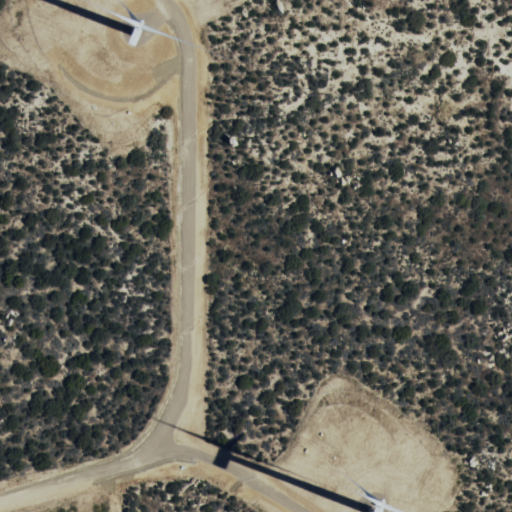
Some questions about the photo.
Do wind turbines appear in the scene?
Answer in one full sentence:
Yes, looking at the shot, I can spot a wind turbine.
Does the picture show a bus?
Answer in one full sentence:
No, there appears to be no bus in this shot.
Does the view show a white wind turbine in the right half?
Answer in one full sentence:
Yes, I can see a white wind turbine in the right half.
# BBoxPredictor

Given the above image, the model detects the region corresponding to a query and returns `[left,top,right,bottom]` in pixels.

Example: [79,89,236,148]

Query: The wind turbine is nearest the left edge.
[96,4,206,48]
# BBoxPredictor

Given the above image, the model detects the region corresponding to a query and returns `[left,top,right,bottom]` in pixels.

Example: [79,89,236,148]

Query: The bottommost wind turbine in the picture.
[347,473,406,512]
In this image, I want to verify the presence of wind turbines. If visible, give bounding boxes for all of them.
[347,473,406,512]
[96,4,206,48]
